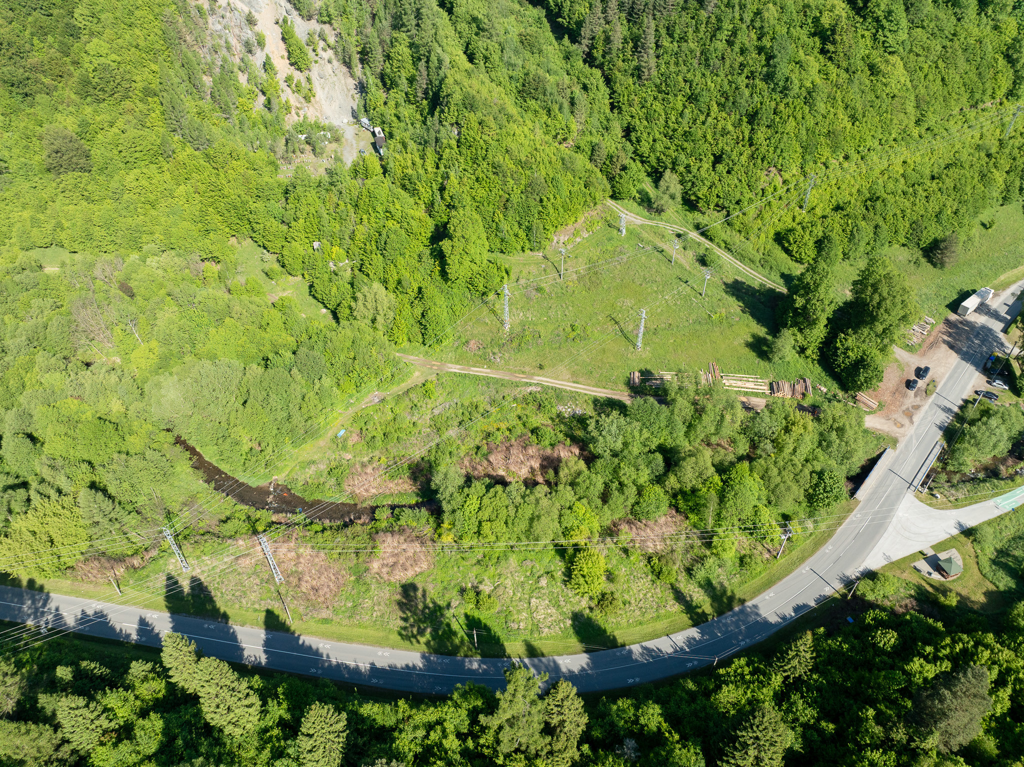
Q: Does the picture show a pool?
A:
No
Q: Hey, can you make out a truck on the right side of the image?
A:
Yes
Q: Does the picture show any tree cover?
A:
Yes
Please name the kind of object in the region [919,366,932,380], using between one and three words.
vehicle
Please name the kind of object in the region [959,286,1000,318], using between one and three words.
truck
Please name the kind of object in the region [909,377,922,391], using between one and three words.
vehicle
